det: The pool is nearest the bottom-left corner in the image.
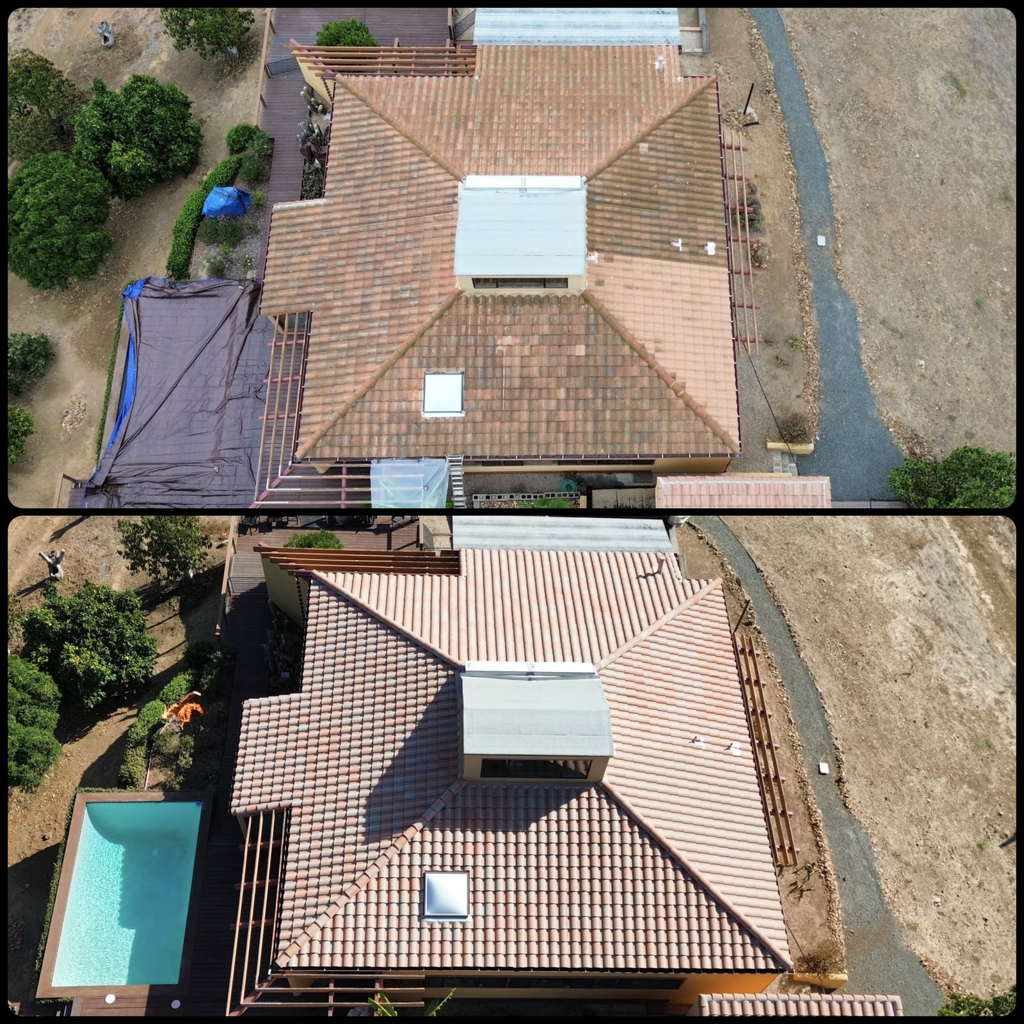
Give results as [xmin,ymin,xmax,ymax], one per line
[36,792,213,999]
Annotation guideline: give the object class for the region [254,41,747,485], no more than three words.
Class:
house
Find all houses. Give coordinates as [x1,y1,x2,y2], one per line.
[222,543,802,1016]
[254,41,747,485]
